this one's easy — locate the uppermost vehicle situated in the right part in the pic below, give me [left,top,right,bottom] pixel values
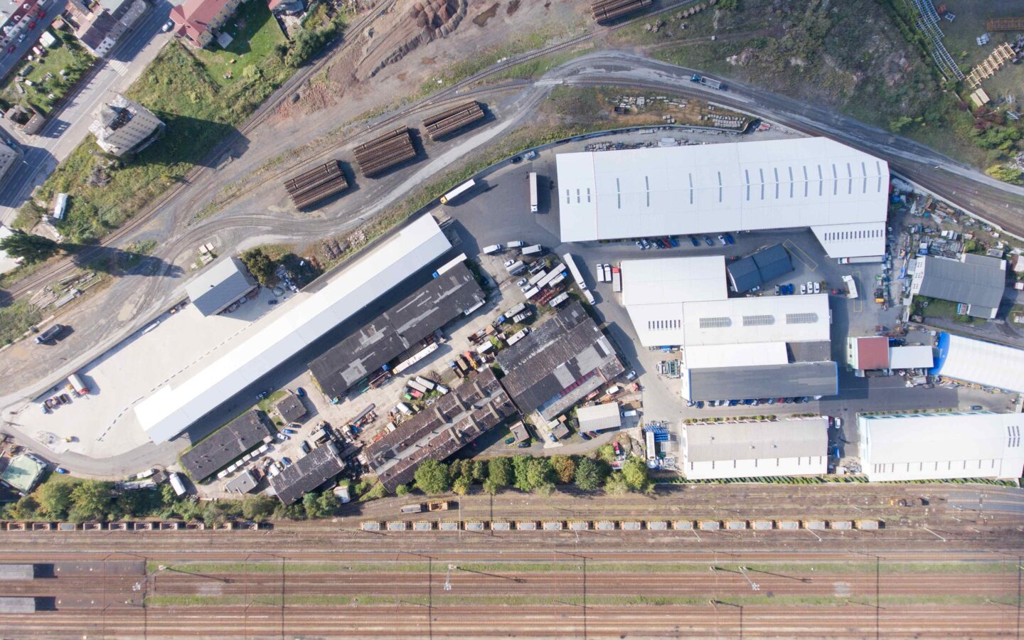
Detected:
[687,73,723,89]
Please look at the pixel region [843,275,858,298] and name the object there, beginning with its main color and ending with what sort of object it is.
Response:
white vehicle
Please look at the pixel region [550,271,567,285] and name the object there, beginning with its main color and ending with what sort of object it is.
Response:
white vehicle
